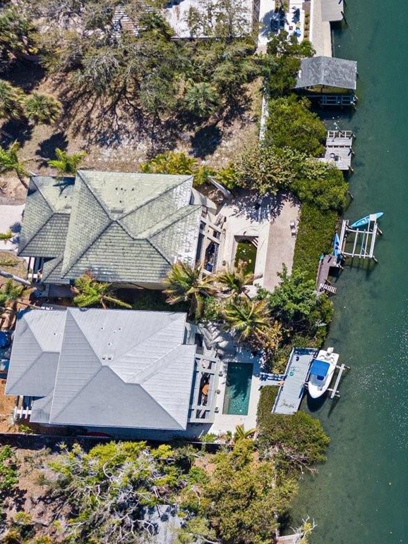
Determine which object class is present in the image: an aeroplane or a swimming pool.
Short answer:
swimming pool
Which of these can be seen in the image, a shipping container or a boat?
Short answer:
boat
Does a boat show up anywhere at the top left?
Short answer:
No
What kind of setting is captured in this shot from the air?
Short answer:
residential area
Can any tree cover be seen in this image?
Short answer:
Yes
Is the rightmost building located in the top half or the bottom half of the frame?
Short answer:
top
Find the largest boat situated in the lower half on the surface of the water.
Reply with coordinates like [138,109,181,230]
[311,345,339,399]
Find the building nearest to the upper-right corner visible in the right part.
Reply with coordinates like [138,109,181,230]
[296,56,362,111]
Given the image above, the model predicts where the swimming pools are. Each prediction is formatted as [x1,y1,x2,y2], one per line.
[229,233,260,279]
[219,360,255,417]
